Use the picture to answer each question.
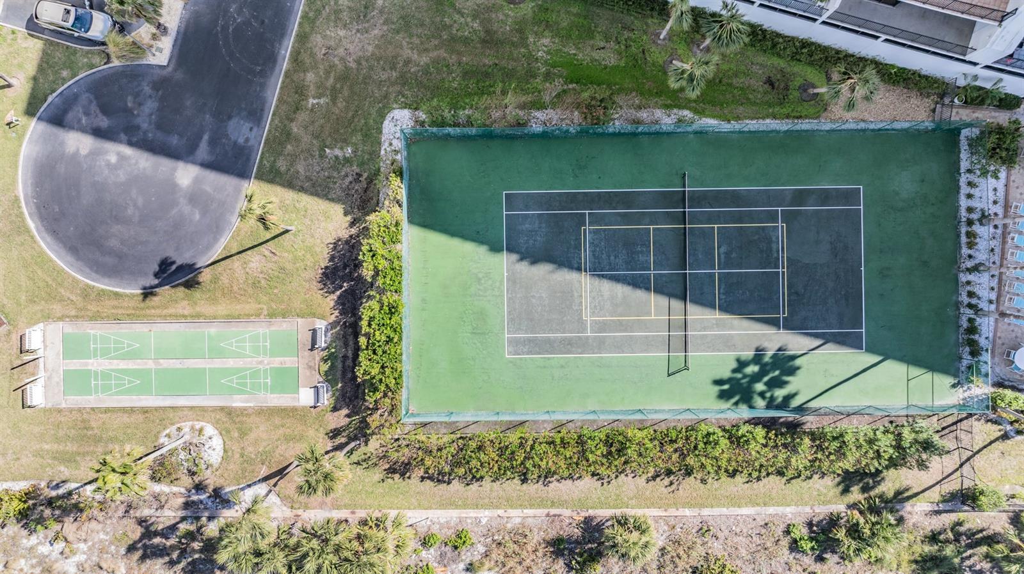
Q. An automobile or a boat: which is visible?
automobile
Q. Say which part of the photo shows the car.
top left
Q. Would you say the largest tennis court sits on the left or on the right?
right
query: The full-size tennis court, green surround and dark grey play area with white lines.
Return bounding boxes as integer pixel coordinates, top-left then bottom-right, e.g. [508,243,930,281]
[407,130,962,413]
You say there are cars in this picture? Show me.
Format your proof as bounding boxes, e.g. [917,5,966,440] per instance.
[38,3,115,49]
